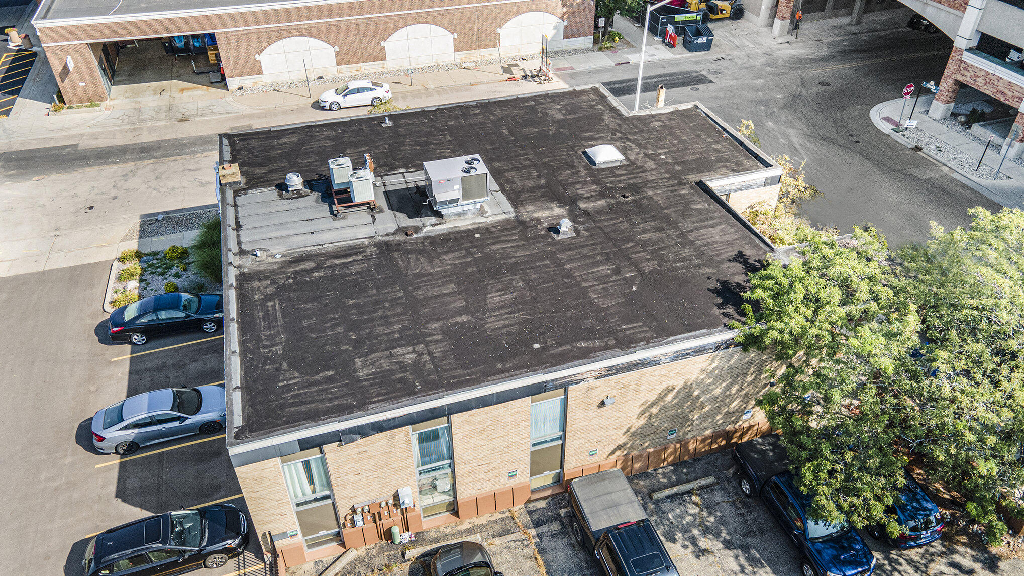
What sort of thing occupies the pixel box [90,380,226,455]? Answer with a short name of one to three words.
car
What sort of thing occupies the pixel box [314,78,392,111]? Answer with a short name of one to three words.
car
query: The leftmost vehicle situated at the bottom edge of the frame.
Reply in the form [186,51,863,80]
[70,495,250,576]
